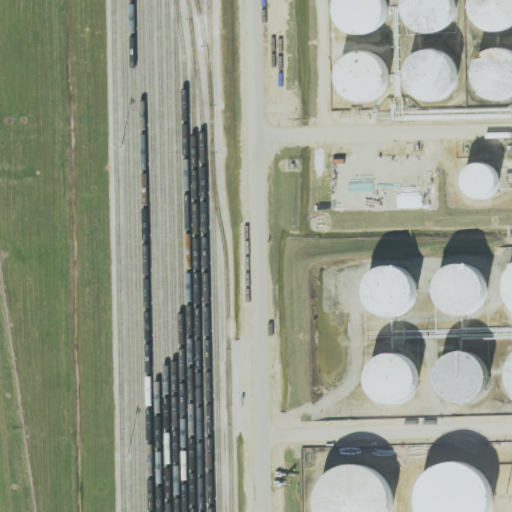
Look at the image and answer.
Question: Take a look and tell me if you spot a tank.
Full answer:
Yes, this view includes a tank.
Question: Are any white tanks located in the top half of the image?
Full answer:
Yes, looking in the top half of the image, one can make out a white tank.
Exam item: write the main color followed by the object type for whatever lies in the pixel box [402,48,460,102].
white storage tank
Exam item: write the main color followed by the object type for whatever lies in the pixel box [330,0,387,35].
white storage tank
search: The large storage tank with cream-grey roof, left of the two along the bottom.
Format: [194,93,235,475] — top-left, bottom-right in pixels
[311,464,392,512]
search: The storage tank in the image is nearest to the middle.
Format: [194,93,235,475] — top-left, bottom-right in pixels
[360,264,418,318]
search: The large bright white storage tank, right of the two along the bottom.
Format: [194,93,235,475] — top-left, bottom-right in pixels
[413,462,492,512]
